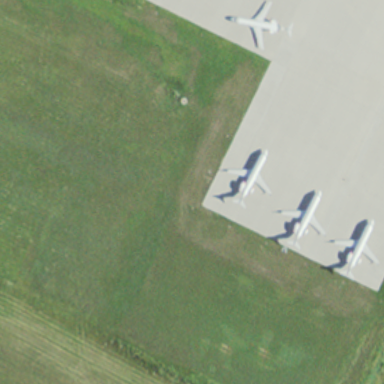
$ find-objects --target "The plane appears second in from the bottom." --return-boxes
[282,191,326,248]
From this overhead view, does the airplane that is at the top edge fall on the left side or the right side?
right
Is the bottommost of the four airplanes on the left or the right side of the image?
right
